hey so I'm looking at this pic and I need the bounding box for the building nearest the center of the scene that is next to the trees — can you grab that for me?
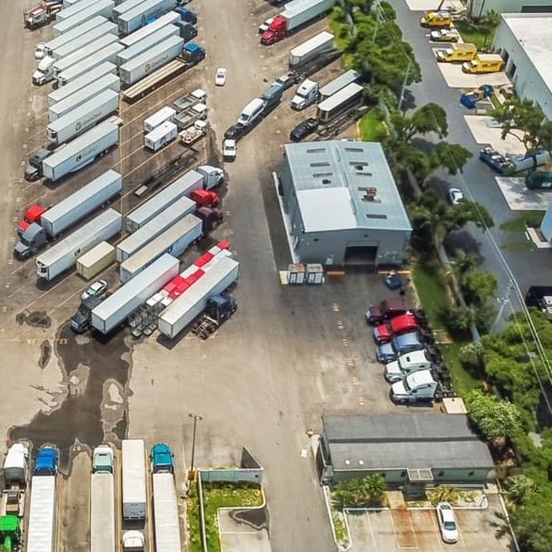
[281,140,413,267]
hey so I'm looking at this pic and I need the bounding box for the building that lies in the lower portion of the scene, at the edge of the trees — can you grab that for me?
[322,413,491,504]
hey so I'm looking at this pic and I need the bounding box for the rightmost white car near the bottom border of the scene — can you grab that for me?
[437,503,458,544]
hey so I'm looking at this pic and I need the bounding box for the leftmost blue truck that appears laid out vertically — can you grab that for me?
[34,437,60,499]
